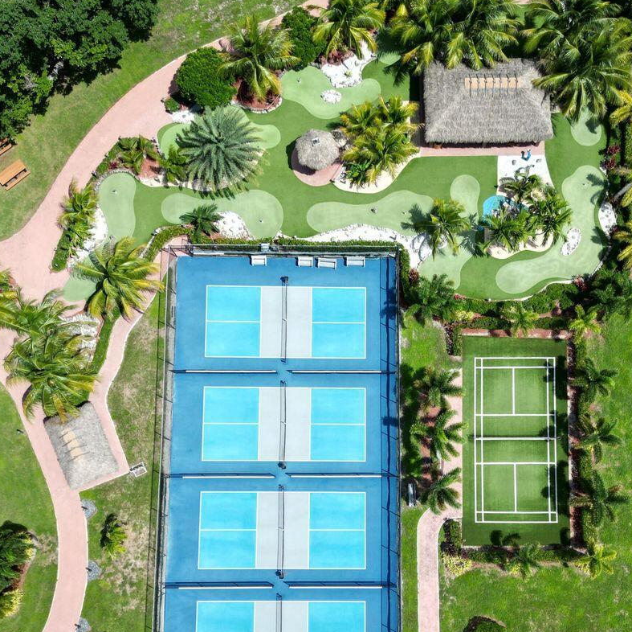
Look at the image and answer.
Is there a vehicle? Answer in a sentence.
No, the picture doesn't show any vehicle.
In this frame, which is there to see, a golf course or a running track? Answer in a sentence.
It is a golf course that can be seen here.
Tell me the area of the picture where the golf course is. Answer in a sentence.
The golf course appears toward the top of the photo.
